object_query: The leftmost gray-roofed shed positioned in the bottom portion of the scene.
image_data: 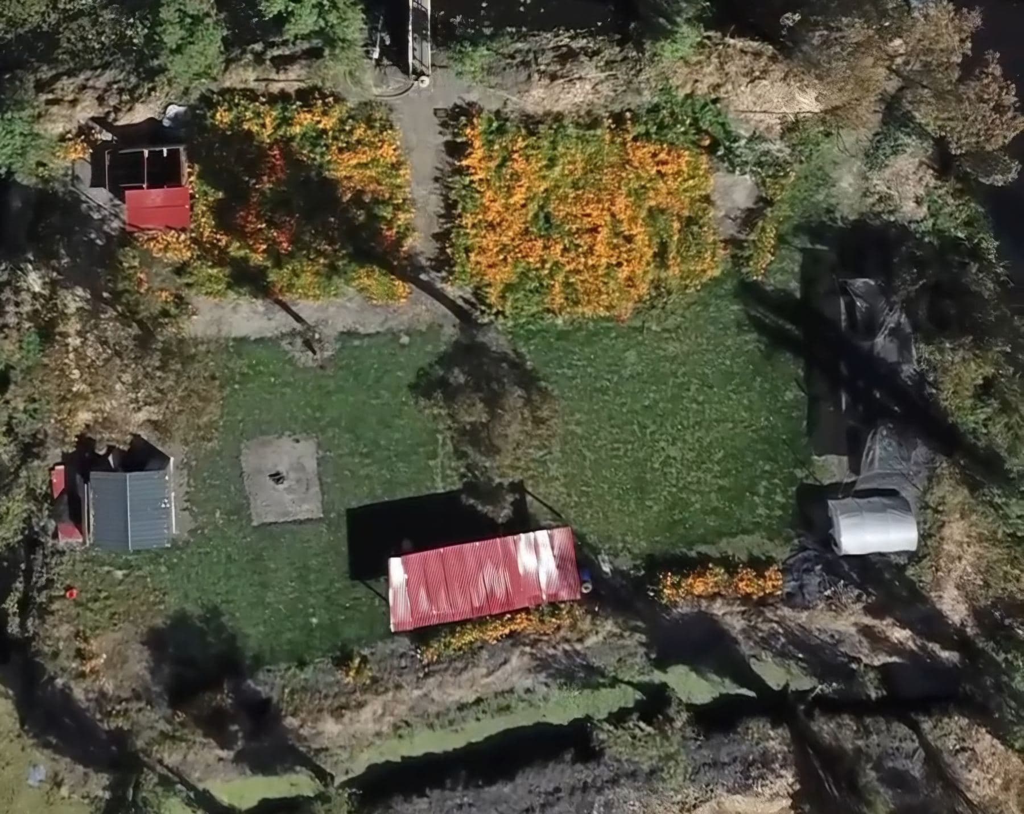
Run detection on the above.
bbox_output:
[89,458,172,553]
